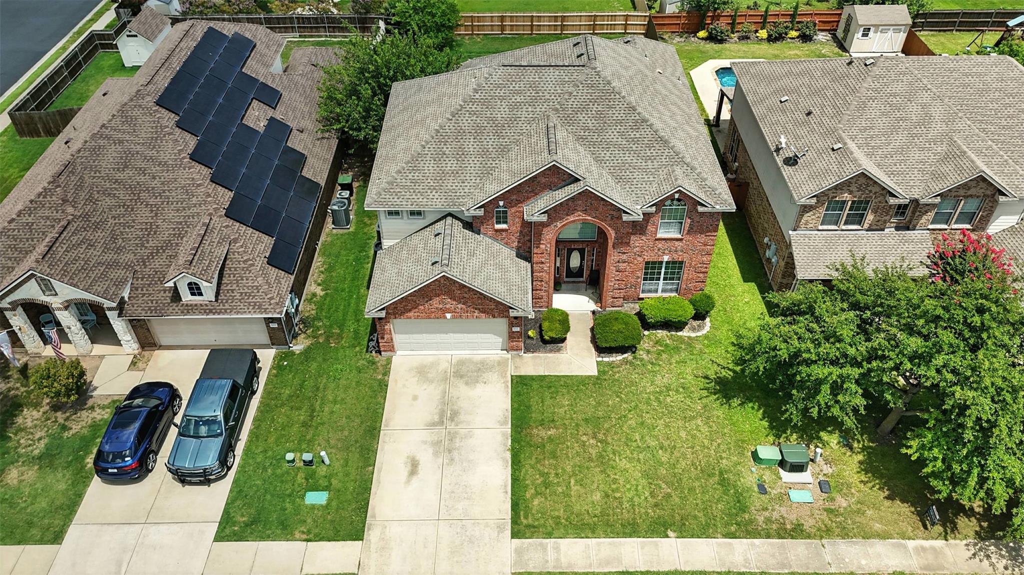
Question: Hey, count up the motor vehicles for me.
2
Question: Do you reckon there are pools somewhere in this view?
Yes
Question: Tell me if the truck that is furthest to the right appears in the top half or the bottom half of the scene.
bottom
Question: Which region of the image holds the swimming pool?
top right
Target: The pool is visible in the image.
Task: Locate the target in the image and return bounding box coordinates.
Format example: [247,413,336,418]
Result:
[689,58,822,149]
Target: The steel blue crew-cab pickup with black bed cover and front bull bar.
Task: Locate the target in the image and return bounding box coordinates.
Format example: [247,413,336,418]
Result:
[164,345,256,484]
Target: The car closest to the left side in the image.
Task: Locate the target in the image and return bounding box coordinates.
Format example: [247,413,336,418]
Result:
[92,382,180,482]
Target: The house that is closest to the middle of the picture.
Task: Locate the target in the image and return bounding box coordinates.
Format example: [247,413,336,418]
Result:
[363,34,738,359]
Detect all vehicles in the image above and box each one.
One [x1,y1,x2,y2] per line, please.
[164,345,256,484]
[92,382,180,482]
